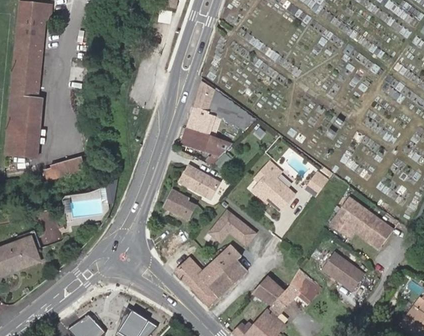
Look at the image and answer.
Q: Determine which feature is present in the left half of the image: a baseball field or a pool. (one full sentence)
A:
The one visible in the left half of the image is a pool.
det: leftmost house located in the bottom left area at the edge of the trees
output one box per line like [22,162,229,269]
[0,232,42,278]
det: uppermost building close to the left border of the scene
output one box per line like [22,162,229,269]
[5,0,53,158]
